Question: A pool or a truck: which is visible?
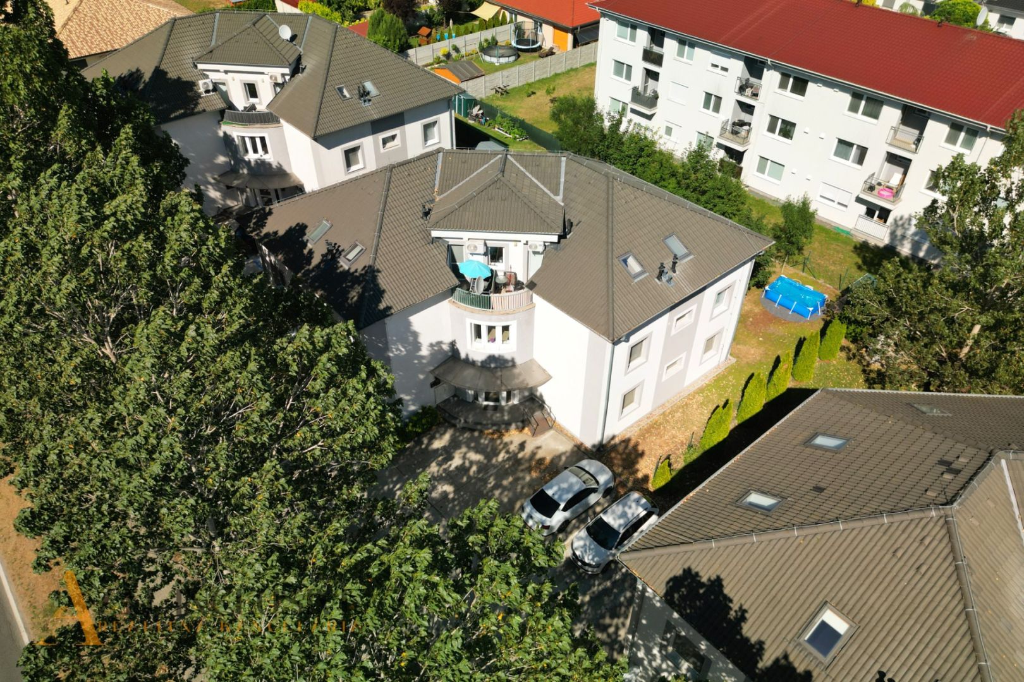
pool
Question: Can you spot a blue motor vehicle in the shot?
No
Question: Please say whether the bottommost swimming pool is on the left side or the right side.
right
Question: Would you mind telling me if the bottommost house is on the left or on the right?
right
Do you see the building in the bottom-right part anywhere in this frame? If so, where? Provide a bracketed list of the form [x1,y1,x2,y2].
[599,382,1024,682]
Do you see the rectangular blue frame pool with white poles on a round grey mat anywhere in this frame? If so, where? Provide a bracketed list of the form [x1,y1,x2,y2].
[755,274,832,324]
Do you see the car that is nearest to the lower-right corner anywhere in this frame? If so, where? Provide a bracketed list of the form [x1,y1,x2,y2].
[564,487,666,577]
